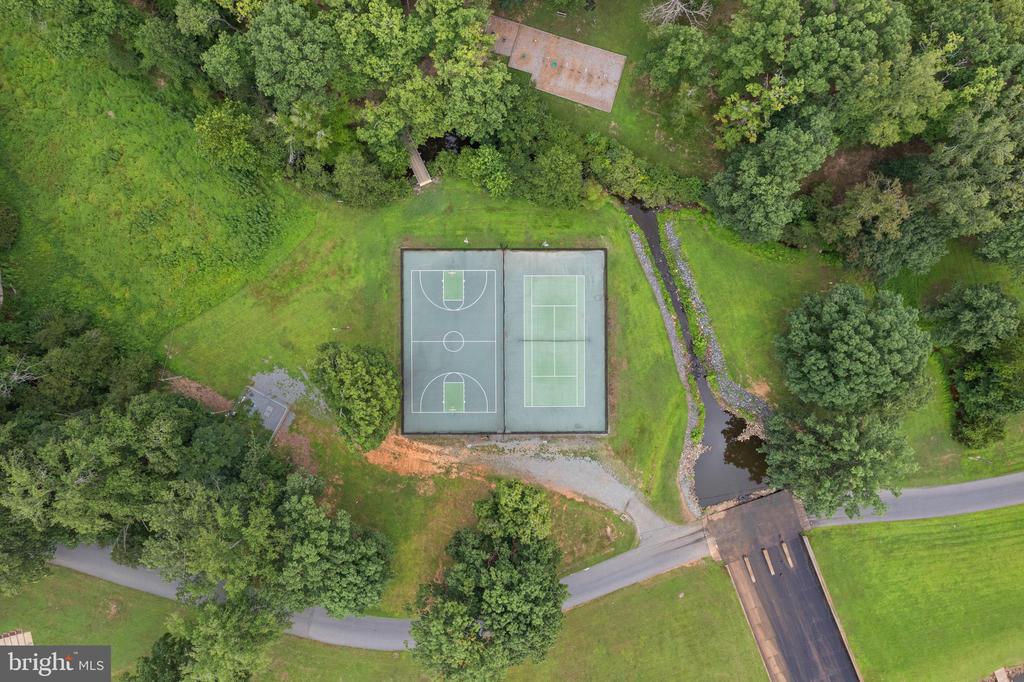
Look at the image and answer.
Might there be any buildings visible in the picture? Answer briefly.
No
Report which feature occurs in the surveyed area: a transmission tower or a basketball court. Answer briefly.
basketball court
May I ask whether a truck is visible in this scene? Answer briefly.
No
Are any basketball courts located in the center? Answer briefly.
Yes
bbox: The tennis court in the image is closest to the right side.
[504,250,606,433]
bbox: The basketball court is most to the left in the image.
[403,250,503,433]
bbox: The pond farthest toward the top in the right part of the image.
[695,394,775,506]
